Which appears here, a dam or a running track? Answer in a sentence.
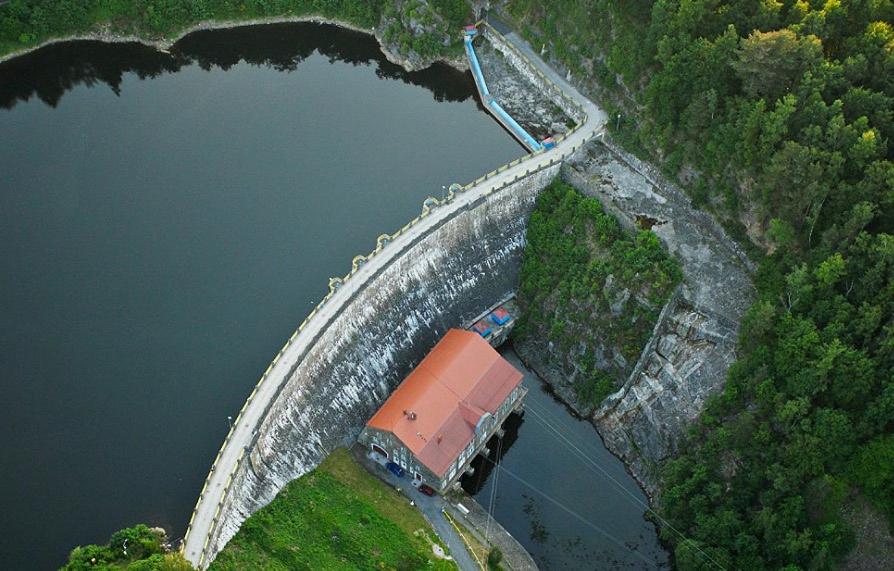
This aerial view contains a dam.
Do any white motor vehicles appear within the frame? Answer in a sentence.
No, the photo shows no white motor vehicle.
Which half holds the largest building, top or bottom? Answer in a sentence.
Seen from above, the largest building lies in the bottom half of the view.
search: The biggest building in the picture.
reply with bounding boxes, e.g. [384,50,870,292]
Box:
[359,327,528,498]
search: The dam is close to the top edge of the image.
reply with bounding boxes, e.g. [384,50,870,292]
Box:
[464,22,559,152]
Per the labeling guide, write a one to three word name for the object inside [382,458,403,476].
car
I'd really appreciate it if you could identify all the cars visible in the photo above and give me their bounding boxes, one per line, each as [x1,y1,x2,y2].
[416,480,437,497]
[382,458,403,476]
